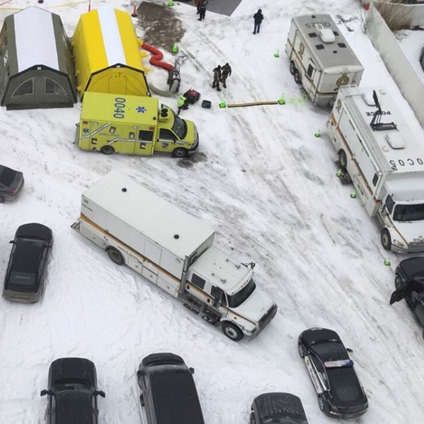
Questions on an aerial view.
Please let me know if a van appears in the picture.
Yes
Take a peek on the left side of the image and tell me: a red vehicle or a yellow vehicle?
yellow vehicle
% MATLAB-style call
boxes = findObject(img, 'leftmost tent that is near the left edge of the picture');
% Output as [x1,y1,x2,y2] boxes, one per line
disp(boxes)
[0,2,77,112]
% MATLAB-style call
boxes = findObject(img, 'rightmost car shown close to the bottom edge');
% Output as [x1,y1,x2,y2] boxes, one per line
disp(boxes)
[302,325,369,422]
